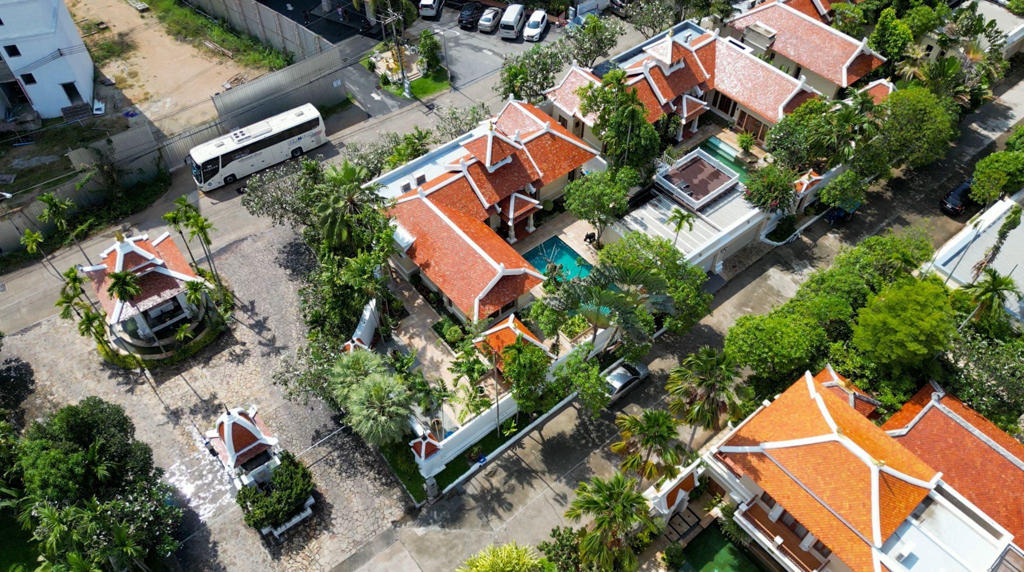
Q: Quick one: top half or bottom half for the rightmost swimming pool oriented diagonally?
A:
top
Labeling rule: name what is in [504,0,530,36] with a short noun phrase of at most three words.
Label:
vehicle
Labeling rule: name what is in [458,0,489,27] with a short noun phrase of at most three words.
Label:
car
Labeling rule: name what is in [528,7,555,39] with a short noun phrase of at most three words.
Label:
car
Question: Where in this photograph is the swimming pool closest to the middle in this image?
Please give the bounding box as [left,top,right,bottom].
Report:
[521,232,618,319]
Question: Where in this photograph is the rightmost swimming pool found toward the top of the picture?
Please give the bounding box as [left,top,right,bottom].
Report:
[690,135,764,191]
